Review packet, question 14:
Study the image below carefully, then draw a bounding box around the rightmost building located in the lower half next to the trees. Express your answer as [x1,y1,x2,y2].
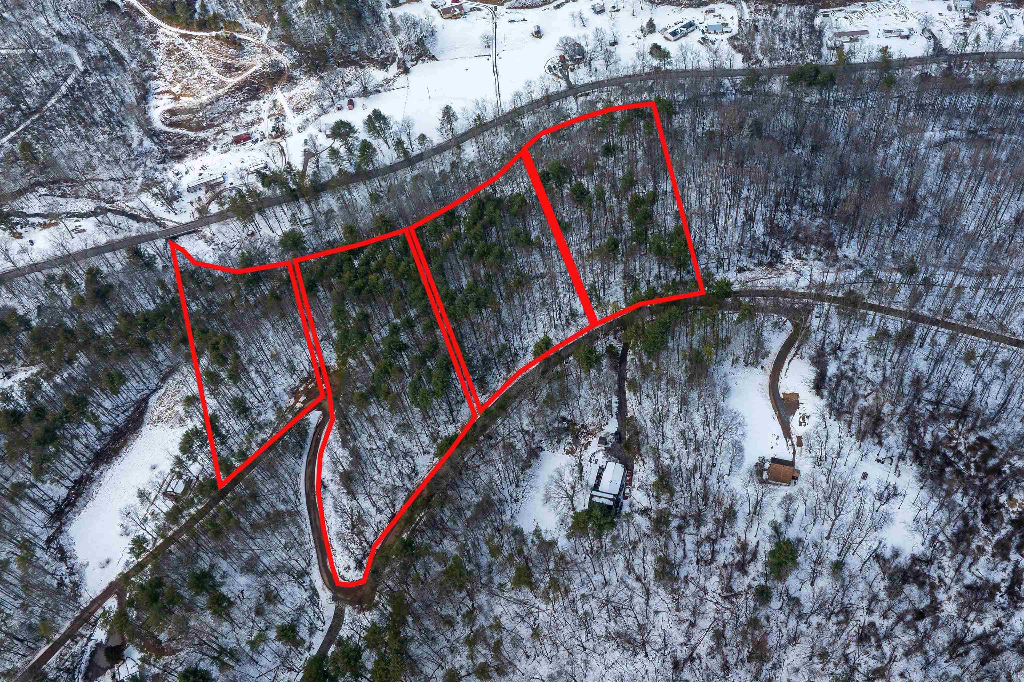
[760,461,801,492]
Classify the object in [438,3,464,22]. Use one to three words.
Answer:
house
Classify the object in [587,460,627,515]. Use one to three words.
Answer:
house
